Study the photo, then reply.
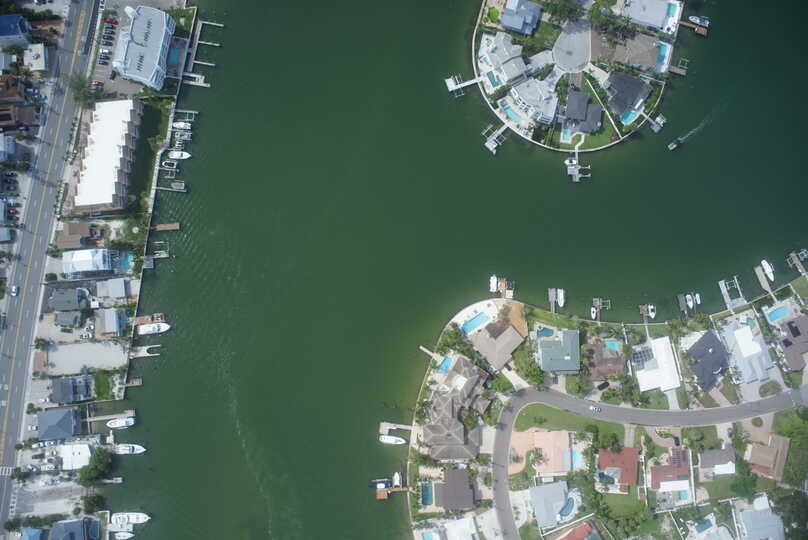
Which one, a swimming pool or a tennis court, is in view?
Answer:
swimming pool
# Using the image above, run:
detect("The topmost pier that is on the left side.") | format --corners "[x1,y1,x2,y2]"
[188,19,225,73]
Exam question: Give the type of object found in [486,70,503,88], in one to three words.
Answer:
swimming pool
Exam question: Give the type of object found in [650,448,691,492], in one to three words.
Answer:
house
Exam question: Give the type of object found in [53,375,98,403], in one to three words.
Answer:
house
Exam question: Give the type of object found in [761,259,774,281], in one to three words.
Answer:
boat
